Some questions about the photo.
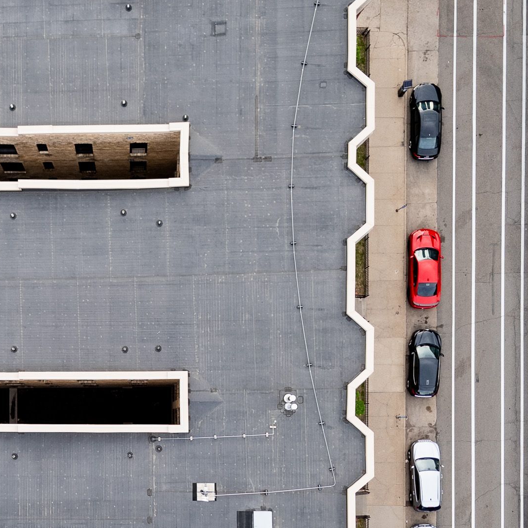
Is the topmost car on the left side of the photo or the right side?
right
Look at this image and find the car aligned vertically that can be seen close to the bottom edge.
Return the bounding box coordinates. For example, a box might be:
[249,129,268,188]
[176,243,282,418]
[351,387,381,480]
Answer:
[408,437,446,513]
